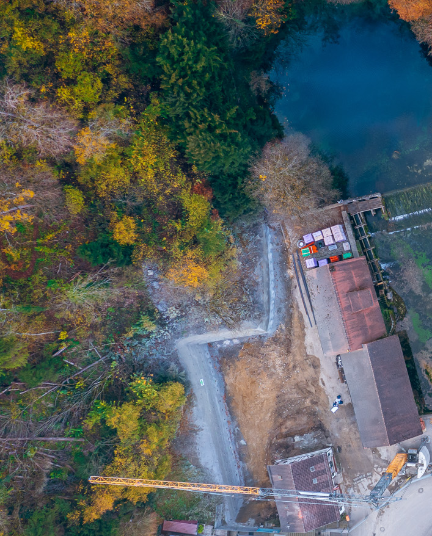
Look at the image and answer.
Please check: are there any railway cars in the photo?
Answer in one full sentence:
No, no railway car is visible in the scene.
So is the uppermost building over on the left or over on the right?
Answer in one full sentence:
The uppermost building is on the right side of the image.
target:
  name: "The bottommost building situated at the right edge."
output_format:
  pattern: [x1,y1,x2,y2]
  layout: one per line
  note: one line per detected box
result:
[340,335,422,450]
